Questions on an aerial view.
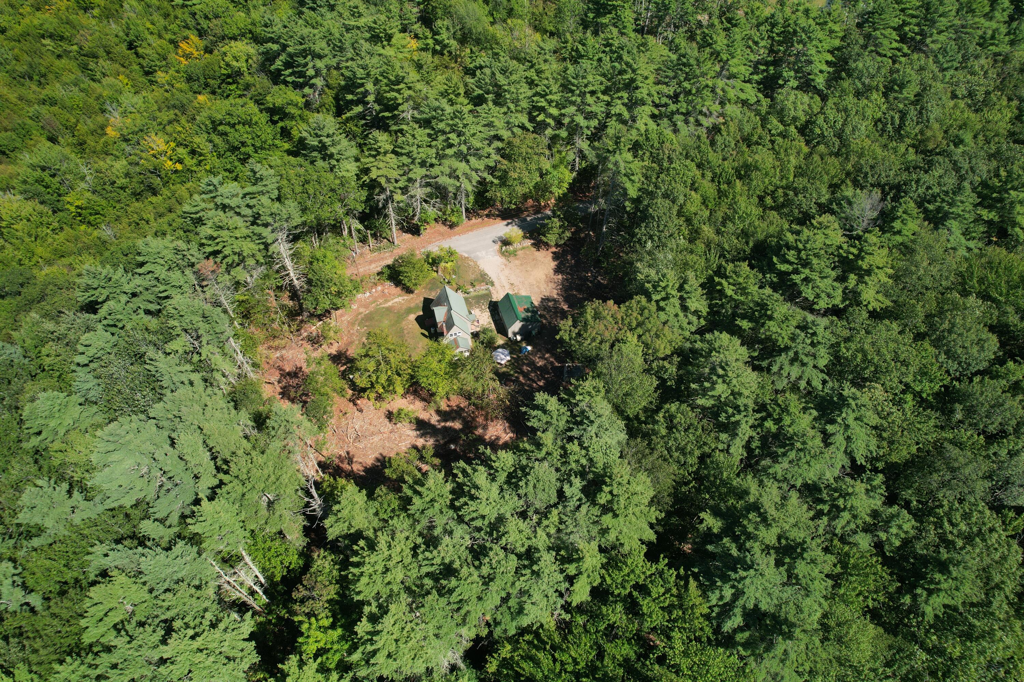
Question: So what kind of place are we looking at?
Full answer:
This looks like a forest.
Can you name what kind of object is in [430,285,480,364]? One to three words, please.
house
